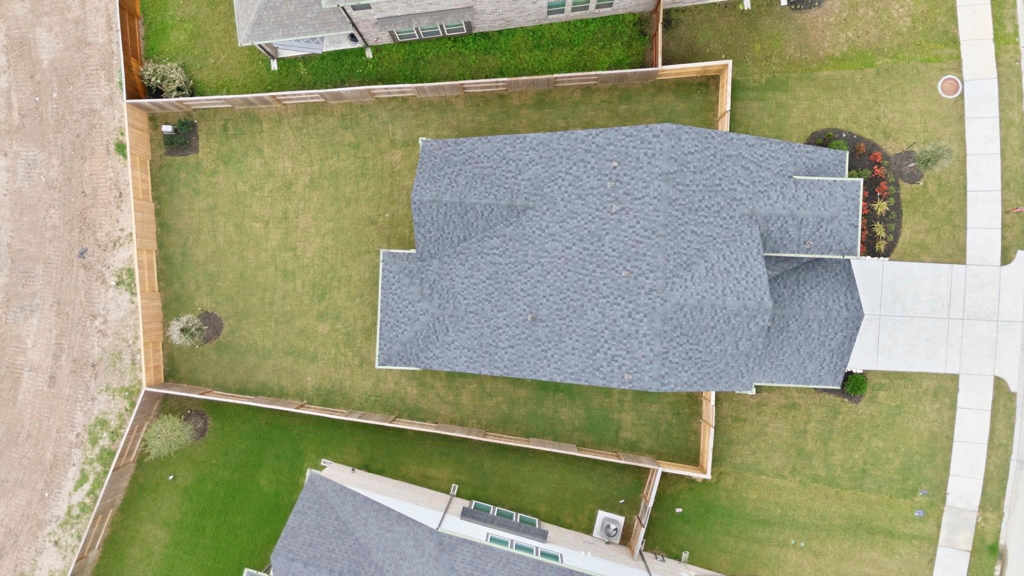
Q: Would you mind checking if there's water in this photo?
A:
No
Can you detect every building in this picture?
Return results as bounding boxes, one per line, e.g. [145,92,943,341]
[374,123,866,395]
[230,0,726,63]
[240,463,723,576]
